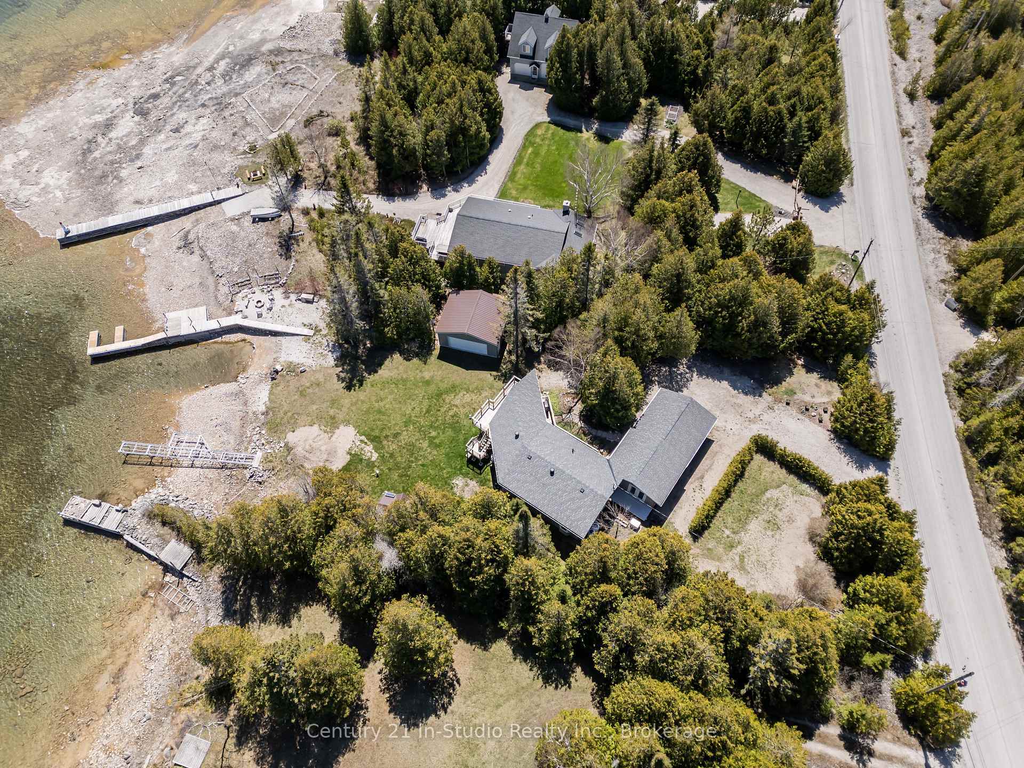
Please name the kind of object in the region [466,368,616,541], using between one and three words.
house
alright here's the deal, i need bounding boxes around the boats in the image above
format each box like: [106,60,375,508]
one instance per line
[246,206,281,218]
